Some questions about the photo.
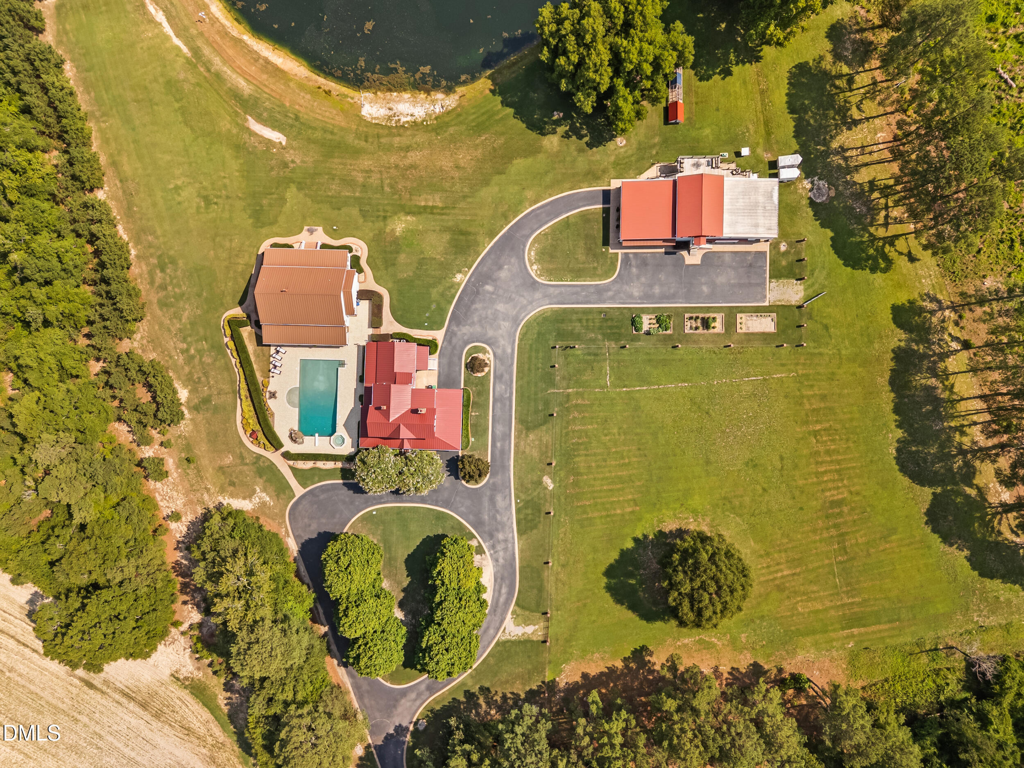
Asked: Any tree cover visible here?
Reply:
Yes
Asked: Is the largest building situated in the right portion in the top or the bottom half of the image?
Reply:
top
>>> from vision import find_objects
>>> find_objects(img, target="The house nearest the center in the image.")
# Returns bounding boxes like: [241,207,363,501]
[359,342,463,451]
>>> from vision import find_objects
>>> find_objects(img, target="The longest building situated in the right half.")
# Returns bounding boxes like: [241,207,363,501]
[619,173,778,248]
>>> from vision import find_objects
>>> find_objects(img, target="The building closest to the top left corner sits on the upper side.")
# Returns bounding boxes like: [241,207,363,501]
[254,248,360,346]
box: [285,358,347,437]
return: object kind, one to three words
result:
swimming pool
